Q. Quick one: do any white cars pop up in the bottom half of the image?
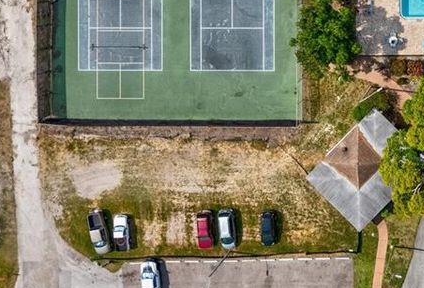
Yes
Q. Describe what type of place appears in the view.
sports ground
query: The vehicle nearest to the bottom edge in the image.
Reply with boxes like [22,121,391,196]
[140,260,159,288]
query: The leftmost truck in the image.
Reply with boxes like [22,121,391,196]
[84,210,112,254]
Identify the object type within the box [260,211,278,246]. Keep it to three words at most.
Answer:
car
